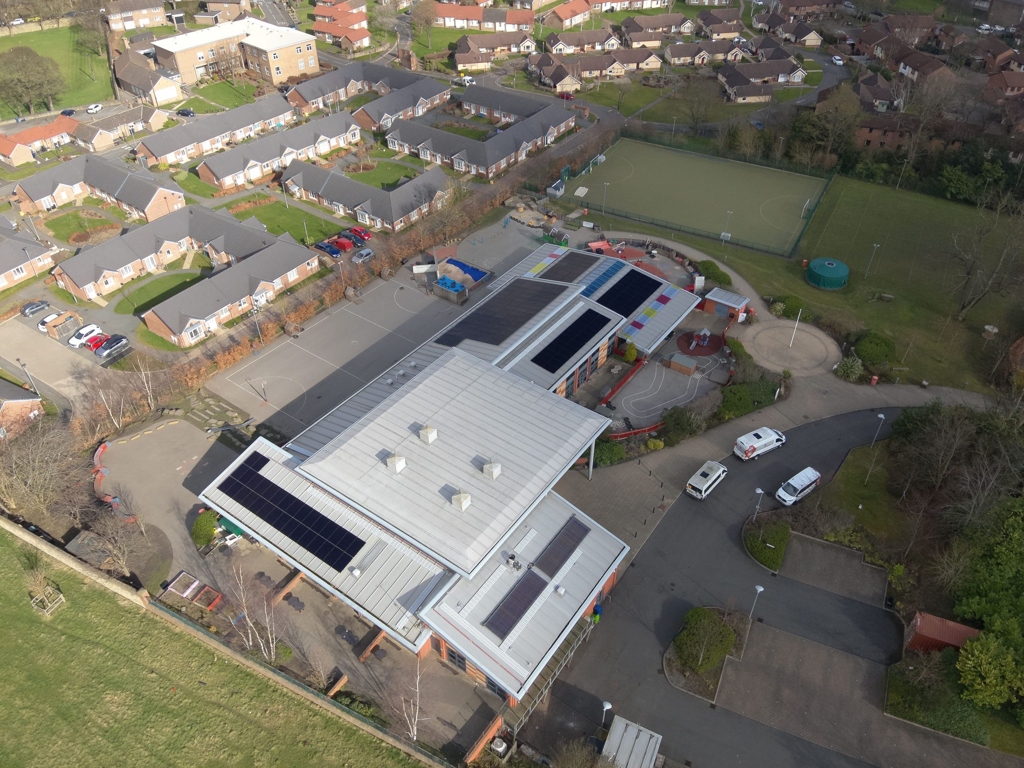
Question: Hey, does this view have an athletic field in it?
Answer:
Yes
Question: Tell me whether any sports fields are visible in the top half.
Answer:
Yes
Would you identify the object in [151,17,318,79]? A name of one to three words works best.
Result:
building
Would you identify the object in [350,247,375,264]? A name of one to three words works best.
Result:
car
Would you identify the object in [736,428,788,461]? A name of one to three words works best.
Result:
vehicle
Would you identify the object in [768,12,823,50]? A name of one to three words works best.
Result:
house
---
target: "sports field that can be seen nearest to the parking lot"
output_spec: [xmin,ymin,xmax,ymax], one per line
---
[547,111,1024,401]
